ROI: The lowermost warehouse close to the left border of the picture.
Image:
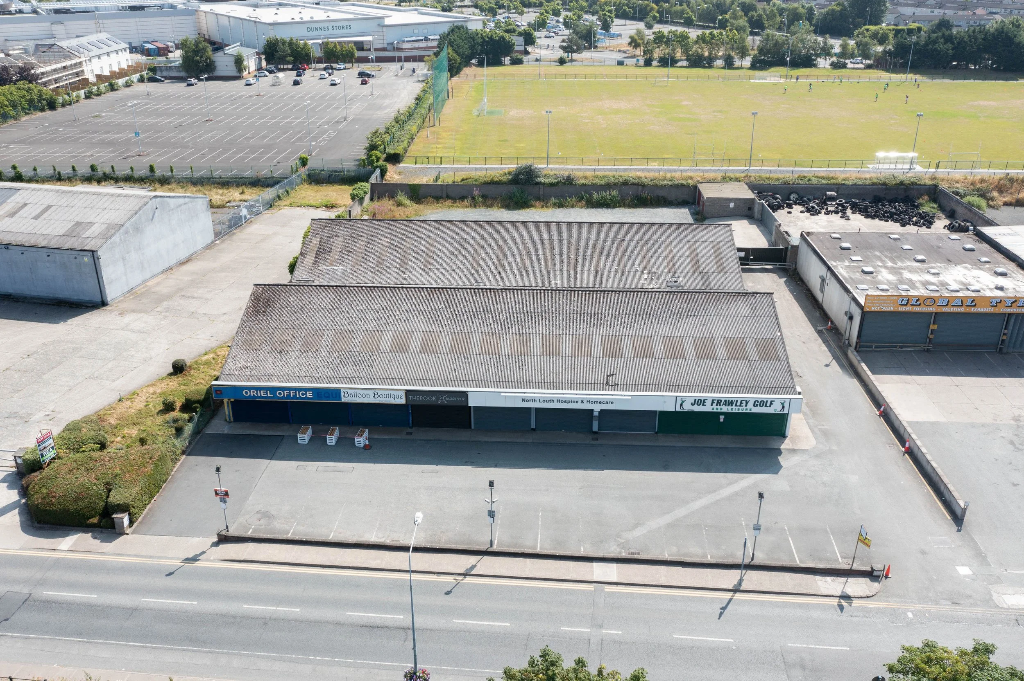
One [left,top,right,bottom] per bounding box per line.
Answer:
[0,184,214,305]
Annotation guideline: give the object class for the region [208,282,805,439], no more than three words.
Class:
building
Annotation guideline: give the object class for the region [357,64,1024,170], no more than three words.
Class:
sports field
